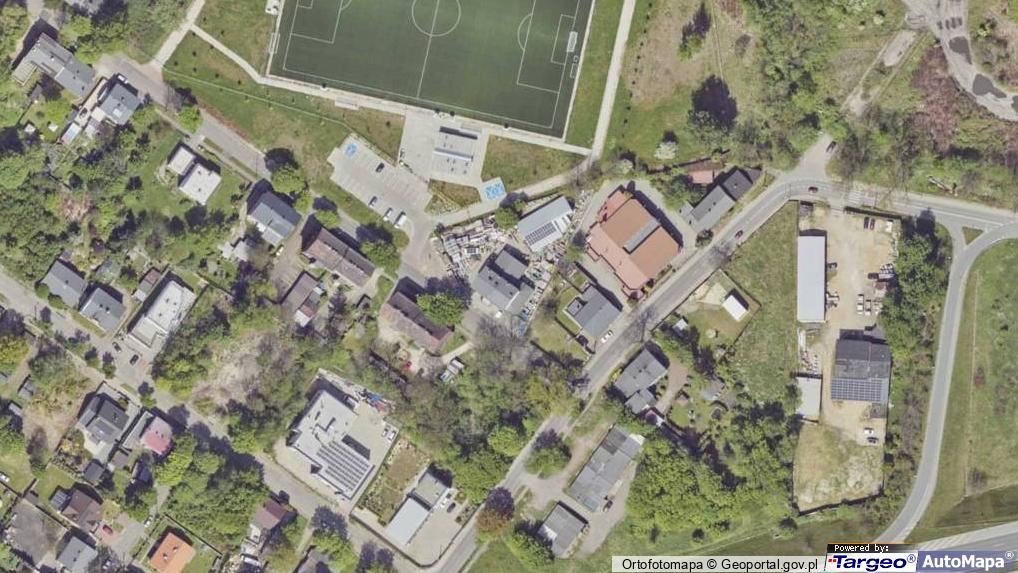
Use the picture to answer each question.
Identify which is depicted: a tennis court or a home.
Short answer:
home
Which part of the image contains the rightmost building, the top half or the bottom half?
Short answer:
bottom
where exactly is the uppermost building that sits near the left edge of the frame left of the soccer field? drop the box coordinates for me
[11,32,94,90]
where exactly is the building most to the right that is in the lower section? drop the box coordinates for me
[832,327,893,419]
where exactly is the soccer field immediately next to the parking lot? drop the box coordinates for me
[266,0,594,139]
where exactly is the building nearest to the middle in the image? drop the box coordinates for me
[471,250,535,316]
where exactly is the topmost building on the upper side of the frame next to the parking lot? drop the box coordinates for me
[431,127,477,175]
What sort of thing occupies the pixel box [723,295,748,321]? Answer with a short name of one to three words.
shed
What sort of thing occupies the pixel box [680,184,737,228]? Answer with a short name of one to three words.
house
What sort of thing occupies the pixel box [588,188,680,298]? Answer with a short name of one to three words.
building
